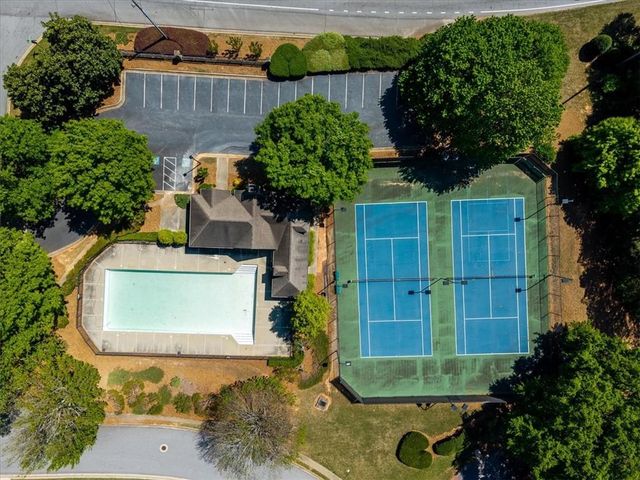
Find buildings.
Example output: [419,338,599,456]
[190,189,309,298]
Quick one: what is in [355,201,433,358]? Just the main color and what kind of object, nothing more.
blue tennis court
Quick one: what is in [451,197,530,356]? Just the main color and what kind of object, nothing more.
blue tennis court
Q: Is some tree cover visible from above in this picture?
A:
Yes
